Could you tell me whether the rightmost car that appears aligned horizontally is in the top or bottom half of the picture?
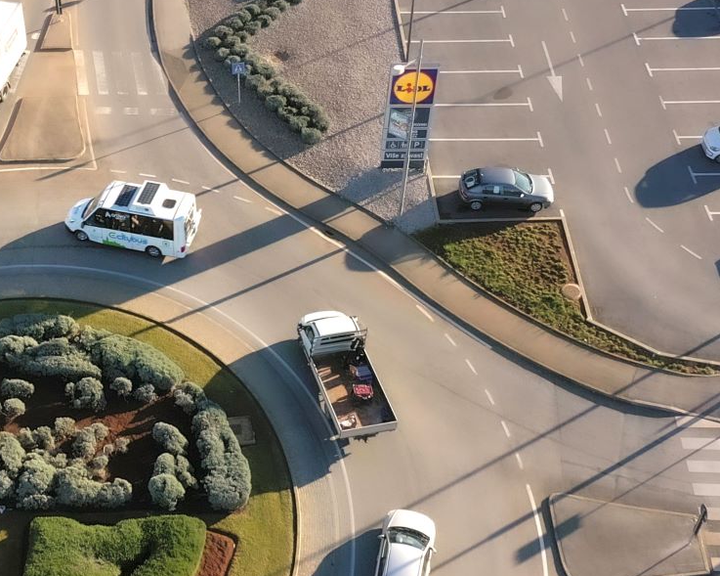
top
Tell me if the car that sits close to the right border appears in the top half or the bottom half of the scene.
top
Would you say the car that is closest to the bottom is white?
Yes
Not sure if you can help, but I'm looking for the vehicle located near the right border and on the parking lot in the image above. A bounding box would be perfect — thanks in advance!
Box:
[699,121,720,158]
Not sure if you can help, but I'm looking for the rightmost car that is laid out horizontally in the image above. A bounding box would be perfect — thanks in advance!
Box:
[457,165,555,212]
